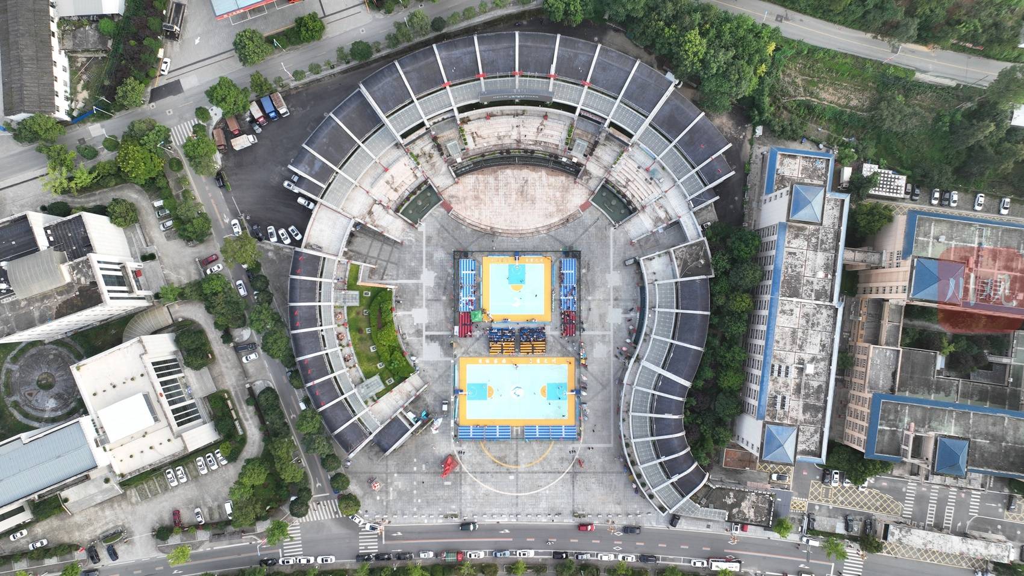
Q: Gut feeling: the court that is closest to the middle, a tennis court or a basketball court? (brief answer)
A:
basketball court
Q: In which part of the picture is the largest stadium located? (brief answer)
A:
center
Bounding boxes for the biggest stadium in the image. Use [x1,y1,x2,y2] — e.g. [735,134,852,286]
[287,32,746,521]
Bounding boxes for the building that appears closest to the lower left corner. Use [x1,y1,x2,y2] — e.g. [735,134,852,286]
[0,415,126,533]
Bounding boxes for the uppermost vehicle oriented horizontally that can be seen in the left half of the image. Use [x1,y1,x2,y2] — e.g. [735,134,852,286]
[229,135,259,150]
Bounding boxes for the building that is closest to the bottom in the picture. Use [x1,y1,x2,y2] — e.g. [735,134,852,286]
[876,518,1015,565]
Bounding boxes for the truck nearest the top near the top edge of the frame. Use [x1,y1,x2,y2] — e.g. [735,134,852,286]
[163,3,184,43]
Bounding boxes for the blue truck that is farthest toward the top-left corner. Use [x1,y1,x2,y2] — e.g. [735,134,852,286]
[258,93,279,122]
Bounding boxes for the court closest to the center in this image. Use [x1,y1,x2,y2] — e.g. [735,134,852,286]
[482,256,551,323]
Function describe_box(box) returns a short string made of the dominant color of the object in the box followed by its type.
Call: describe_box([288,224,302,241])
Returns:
white car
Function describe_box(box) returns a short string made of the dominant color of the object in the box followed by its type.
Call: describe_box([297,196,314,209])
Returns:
white vehicle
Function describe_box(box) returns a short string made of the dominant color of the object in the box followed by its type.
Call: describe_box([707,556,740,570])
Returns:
white vehicle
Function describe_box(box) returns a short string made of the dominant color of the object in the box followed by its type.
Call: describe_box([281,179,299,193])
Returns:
white car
